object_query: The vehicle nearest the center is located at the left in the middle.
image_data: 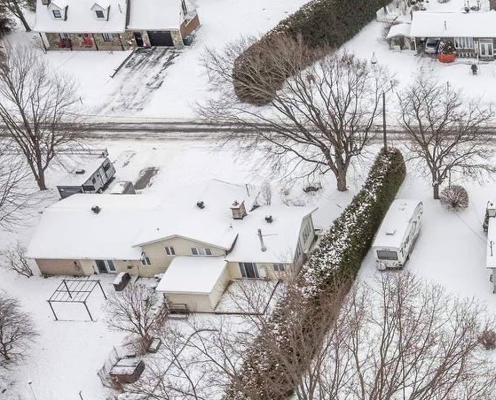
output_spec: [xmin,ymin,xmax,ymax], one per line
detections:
[115,180,154,195]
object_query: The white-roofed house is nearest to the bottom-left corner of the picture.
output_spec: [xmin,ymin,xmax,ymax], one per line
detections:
[27,181,338,318]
